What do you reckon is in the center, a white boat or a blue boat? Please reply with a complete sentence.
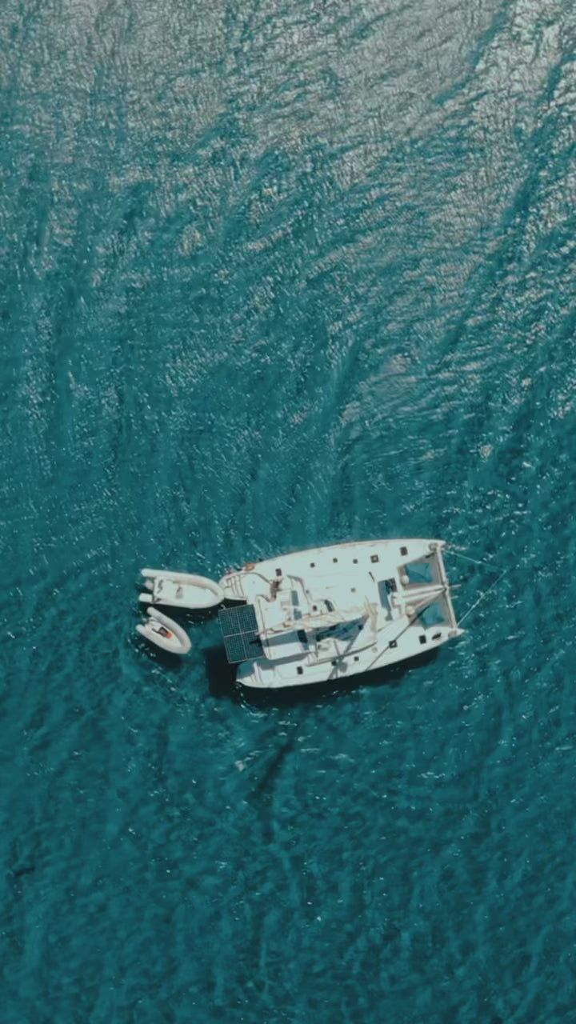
The feature located in the center is a white boat.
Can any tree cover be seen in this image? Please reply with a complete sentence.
No, the picture contains no tree cover.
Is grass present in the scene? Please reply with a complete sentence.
No, grass can't be seen anywhere here.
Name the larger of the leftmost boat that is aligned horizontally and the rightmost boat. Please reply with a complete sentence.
The rightmost boat takes up more space than the leftmost boat that is aligned horizontally does.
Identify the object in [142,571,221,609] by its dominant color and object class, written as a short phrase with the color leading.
white boat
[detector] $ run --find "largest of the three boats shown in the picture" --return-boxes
[218,539,466,689]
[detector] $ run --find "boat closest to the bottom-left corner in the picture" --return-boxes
[137,607,187,653]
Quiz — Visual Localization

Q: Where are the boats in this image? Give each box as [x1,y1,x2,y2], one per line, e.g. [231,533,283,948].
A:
[137,607,187,653]
[218,539,466,689]
[142,571,221,609]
